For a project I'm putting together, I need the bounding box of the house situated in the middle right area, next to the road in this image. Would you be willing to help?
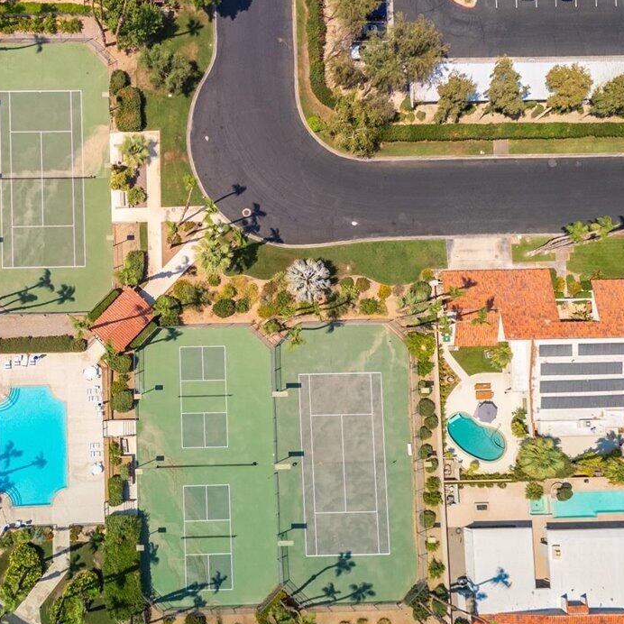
[440,269,624,437]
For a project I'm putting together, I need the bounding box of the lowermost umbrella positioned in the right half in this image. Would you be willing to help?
[475,400,498,424]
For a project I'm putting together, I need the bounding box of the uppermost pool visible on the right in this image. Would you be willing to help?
[448,409,509,464]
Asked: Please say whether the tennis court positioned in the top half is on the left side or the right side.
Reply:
left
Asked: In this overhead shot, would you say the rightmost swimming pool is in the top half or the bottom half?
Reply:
bottom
